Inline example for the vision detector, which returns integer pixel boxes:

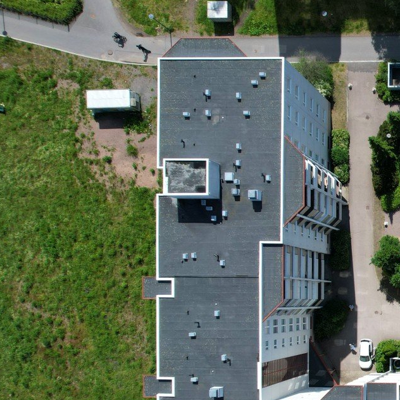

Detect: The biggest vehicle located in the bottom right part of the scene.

[357,338,376,369]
